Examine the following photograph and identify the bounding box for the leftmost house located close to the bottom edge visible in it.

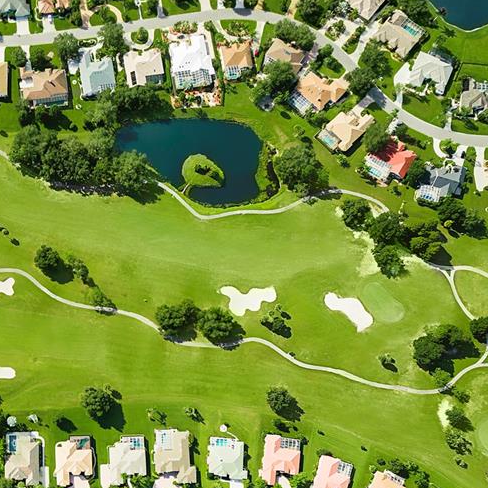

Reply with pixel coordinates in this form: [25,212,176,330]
[6,431,40,485]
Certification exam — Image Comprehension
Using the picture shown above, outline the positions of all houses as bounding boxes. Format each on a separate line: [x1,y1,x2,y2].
[20,68,67,104]
[254,39,305,72]
[312,454,354,488]
[154,429,197,483]
[362,140,414,183]
[325,112,374,149]
[0,0,31,18]
[0,65,9,98]
[262,435,300,485]
[348,0,386,20]
[220,40,253,82]
[405,47,452,93]
[6,431,40,485]
[170,34,215,91]
[208,438,247,479]
[374,9,425,59]
[287,74,348,115]
[56,444,92,487]
[78,51,116,95]
[364,468,406,488]
[38,0,73,16]
[124,48,164,88]
[411,166,466,205]
[457,82,488,119]
[109,435,146,484]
